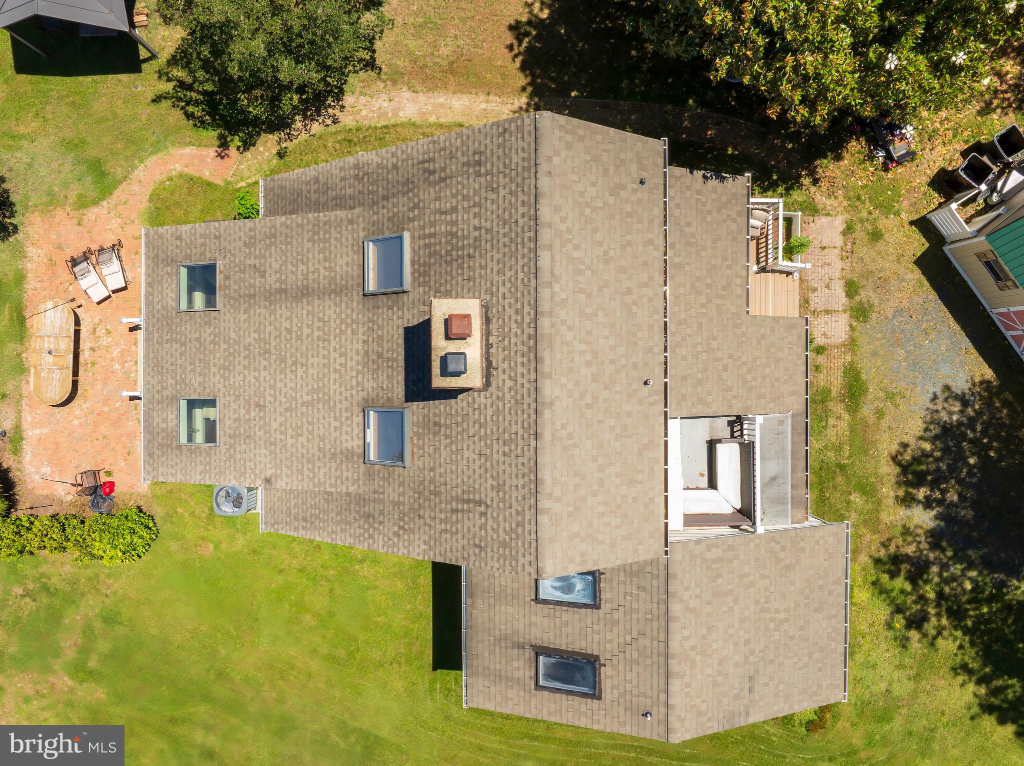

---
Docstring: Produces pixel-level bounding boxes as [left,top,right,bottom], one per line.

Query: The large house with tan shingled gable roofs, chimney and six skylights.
[122,108,850,744]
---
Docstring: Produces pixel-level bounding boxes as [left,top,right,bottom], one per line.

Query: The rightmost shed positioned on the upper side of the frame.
[943,191,1024,361]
